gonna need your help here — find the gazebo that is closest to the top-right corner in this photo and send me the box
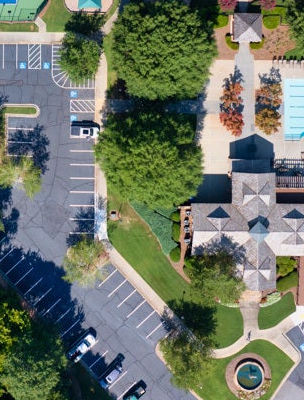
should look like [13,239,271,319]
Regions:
[230,13,262,42]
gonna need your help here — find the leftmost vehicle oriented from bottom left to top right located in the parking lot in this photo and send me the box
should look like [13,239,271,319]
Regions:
[69,334,95,363]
